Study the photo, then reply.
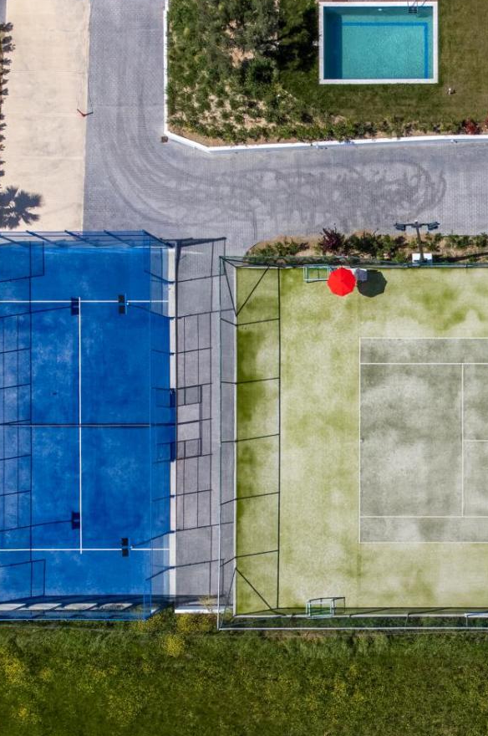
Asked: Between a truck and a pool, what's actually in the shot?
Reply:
pool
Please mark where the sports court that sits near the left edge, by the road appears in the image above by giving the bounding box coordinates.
[0,240,176,611]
